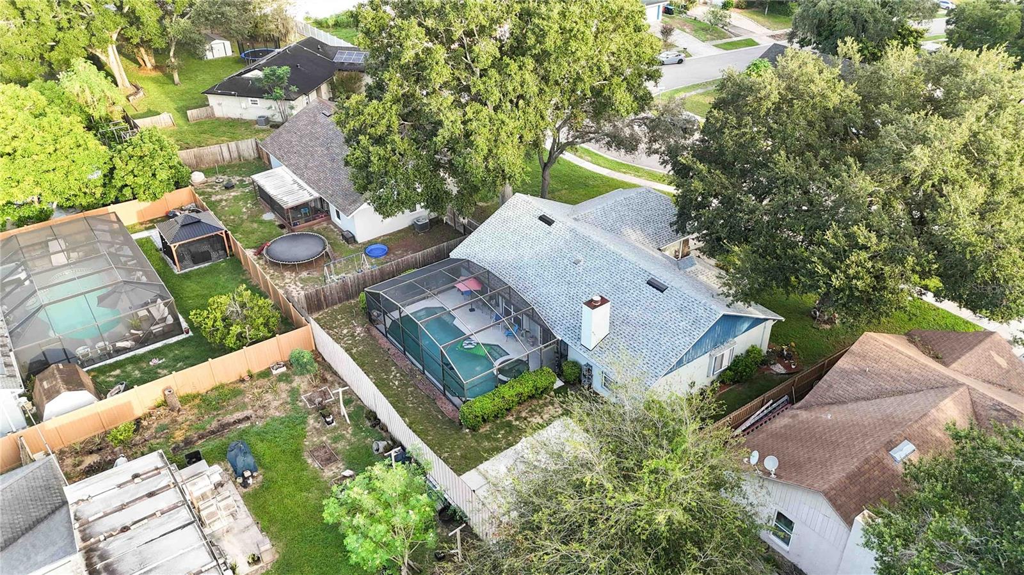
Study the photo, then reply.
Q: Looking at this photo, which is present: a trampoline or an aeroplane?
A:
trampoline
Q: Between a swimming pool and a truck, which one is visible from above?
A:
swimming pool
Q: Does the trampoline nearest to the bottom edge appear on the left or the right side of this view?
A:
left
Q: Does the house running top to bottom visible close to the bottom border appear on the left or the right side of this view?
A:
left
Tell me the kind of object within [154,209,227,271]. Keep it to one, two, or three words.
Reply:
gazebo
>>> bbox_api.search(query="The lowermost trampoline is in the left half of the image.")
[263,233,329,275]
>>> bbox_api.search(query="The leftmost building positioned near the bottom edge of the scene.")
[0,360,97,575]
